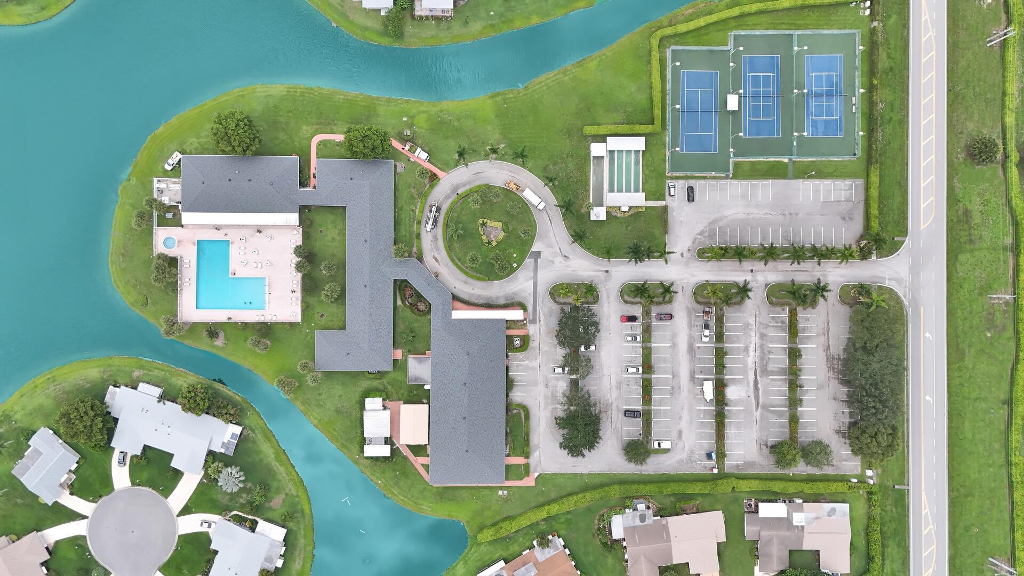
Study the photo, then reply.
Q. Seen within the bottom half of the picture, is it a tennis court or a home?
home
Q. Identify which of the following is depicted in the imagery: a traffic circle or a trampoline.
traffic circle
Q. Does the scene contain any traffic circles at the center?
Yes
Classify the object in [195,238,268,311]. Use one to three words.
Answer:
swimming pool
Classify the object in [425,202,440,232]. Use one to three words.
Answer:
vehicle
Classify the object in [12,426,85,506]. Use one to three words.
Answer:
house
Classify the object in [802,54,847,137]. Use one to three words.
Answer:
tennis court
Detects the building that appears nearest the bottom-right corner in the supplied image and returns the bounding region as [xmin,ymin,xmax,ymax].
[743,497,851,574]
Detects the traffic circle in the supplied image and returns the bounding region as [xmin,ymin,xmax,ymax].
[423,166,558,300]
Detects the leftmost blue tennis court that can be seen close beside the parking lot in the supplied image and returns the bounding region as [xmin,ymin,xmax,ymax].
[677,70,722,153]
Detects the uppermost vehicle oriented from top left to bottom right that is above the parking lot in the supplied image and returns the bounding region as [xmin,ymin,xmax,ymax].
[405,142,429,161]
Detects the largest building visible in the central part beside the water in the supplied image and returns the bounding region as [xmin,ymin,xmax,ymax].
[291,159,523,485]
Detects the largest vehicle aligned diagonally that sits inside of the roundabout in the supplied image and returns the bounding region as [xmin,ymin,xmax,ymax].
[522,189,546,210]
